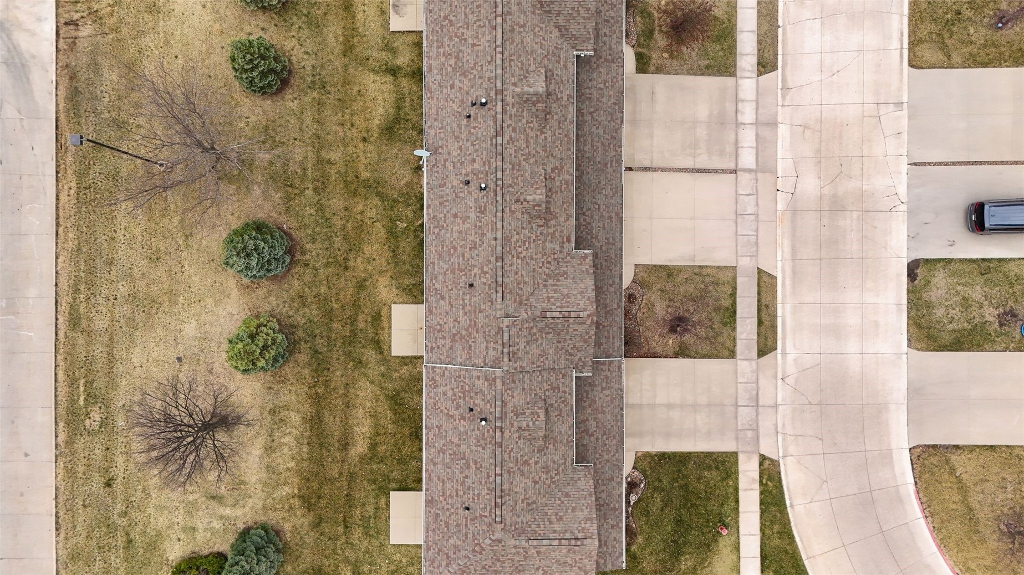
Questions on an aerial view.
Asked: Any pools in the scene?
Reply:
No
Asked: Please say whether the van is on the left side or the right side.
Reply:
right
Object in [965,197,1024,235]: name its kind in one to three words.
van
